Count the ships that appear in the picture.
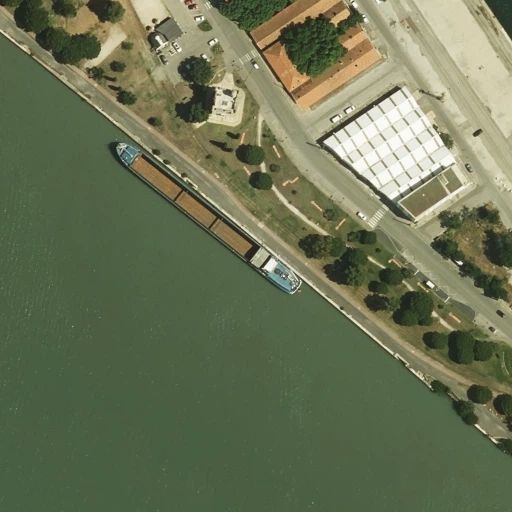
1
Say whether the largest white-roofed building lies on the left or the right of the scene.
right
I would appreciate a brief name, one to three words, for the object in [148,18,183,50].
building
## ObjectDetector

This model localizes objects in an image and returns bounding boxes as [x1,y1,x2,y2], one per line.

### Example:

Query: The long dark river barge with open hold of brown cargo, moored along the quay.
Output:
[117,142,303,295]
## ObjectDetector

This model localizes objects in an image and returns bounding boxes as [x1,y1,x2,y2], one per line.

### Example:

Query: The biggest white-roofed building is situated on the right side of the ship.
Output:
[322,88,454,200]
